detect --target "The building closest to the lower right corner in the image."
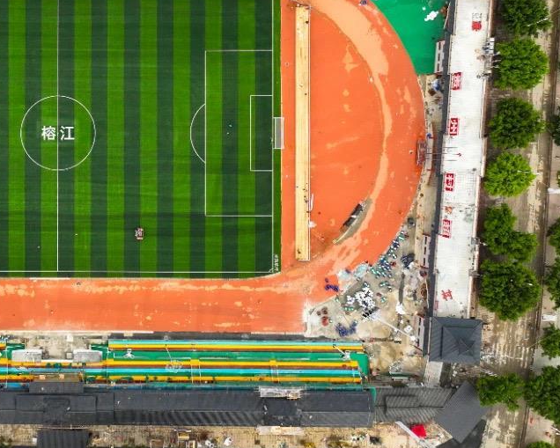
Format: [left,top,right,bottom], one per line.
[435,376,486,444]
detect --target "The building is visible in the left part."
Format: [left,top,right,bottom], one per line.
[37,425,89,448]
